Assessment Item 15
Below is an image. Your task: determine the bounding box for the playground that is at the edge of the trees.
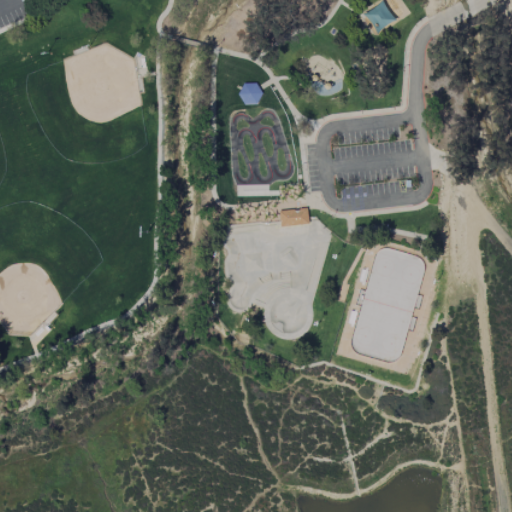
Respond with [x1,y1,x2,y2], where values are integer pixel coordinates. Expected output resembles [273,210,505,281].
[308,55,344,96]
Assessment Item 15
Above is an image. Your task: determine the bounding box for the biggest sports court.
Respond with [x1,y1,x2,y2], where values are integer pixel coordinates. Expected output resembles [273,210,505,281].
[354,247,424,362]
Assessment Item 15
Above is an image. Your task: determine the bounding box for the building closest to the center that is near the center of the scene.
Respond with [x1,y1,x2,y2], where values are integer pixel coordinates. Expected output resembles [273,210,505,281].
[280,208,310,226]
